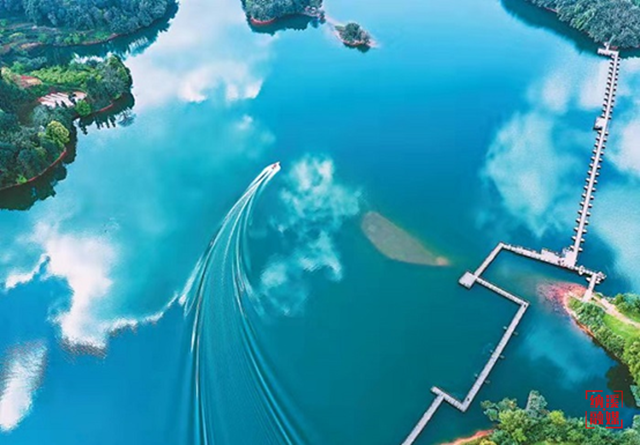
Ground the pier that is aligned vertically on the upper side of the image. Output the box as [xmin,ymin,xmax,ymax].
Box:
[568,44,621,263]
